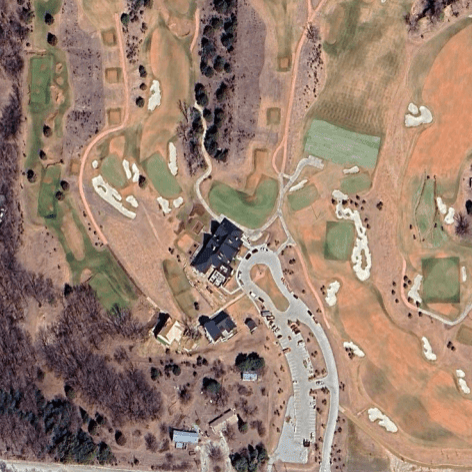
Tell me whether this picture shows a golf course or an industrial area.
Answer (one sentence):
The area seen from above is a golf course.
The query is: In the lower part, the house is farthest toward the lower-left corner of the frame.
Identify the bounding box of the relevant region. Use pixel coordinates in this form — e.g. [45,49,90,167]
[172,430,199,448]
